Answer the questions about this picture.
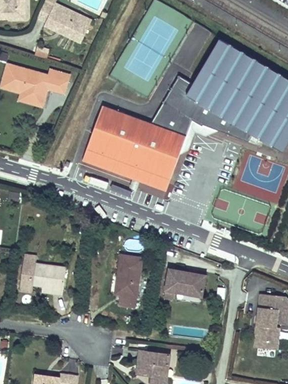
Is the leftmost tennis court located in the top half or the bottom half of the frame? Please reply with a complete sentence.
Seen from above, the leftmost tennis court lies in the top half of the view.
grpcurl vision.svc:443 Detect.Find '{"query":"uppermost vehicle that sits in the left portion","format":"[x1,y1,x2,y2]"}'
[86,176,110,189]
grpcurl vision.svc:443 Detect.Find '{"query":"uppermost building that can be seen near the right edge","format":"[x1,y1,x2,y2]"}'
[188,40,288,152]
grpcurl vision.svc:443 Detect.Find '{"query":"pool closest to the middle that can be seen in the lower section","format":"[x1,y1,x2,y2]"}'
[124,237,144,252]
